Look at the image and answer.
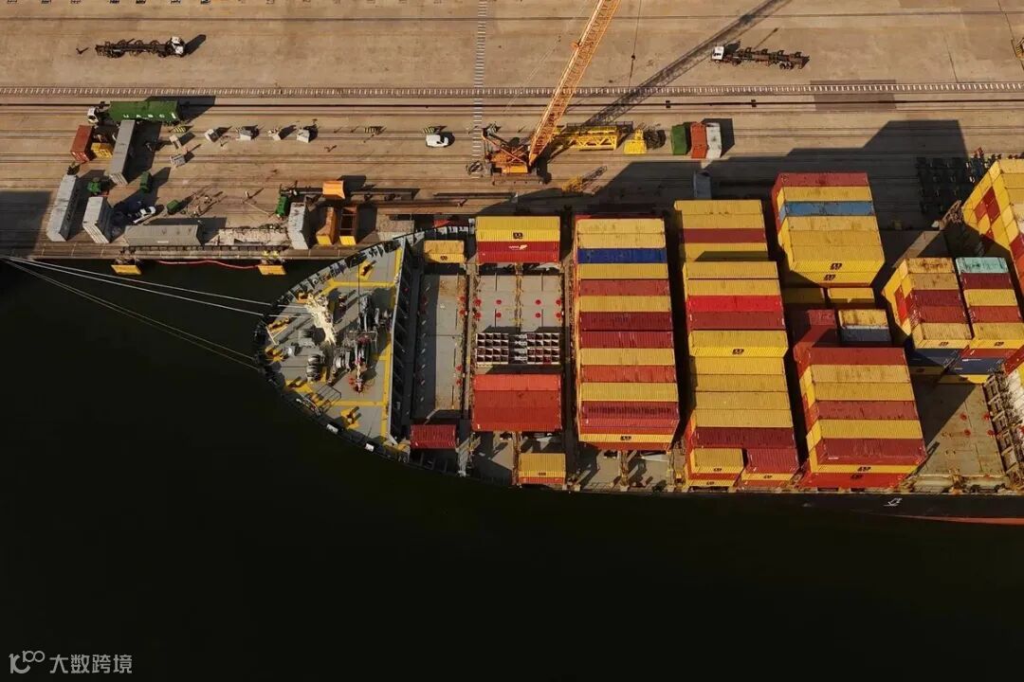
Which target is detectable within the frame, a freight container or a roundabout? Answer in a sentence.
Of the two, only a freight container appears.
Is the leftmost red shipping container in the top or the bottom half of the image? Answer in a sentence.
It is in the top half that the leftmost red shipping container appears.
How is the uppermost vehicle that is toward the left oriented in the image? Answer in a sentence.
The uppermost vehicle that is toward the left is oriented horizontally.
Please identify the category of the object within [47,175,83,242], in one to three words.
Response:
shipping container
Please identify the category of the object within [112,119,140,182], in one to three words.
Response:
shipping container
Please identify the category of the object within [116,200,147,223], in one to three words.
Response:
truck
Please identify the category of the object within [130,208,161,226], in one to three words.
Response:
vehicle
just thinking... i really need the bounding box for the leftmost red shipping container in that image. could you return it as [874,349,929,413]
[71,124,97,160]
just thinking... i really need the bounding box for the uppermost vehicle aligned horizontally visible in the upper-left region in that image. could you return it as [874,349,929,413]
[100,38,191,58]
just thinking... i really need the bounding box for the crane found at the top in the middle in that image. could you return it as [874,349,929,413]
[477,0,644,187]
